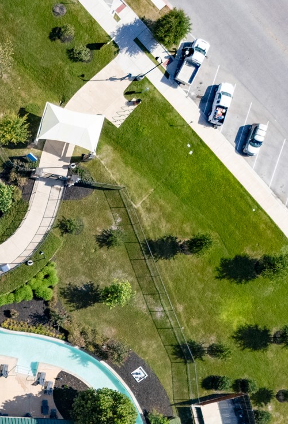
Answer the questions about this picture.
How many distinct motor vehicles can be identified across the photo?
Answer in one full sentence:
The picture shows 3 motor vehicles.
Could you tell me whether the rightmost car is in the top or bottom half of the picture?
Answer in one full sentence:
It is in the top half that the rightmost car appears.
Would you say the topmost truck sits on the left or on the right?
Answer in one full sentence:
The topmost truck is on the right side of the image.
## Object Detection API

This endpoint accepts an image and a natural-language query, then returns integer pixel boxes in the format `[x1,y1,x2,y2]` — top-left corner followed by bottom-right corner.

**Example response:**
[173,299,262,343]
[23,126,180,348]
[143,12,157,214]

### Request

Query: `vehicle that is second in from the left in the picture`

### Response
[205,80,236,131]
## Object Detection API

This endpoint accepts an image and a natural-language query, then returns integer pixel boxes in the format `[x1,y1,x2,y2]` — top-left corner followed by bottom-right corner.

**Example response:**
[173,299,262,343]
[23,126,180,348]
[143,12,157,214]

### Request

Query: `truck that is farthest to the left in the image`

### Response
[172,36,211,88]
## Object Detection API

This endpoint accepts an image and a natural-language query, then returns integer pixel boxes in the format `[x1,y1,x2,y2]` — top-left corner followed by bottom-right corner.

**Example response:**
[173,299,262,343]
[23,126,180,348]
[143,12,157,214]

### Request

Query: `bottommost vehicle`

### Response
[238,118,270,161]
